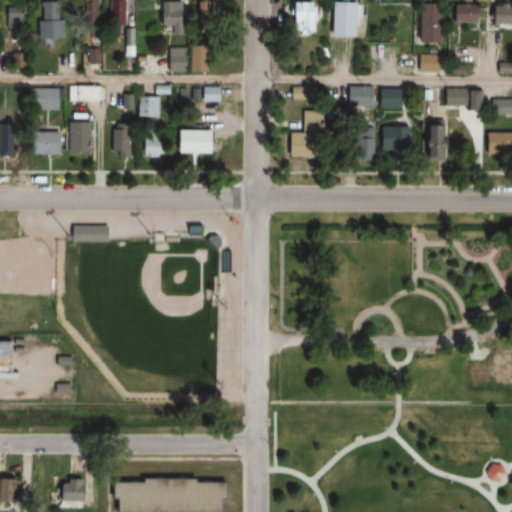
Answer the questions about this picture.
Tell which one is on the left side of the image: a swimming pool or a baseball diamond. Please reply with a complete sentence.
The one visible on the left side of the image is a baseball diamond.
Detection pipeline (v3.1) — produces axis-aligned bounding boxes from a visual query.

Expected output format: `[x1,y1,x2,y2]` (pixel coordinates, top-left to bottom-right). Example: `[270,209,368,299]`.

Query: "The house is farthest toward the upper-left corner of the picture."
[8,7,24,38]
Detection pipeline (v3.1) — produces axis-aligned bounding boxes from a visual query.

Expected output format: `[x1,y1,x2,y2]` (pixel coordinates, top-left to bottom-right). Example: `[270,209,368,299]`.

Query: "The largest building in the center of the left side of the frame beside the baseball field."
[73,226,109,242]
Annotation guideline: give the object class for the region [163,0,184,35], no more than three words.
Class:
house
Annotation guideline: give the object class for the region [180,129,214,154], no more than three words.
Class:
building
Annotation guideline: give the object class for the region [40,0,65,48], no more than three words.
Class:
house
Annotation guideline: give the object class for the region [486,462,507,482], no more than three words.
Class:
gazebo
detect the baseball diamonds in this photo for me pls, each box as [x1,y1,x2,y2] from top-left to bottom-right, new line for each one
[57,236,218,398]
